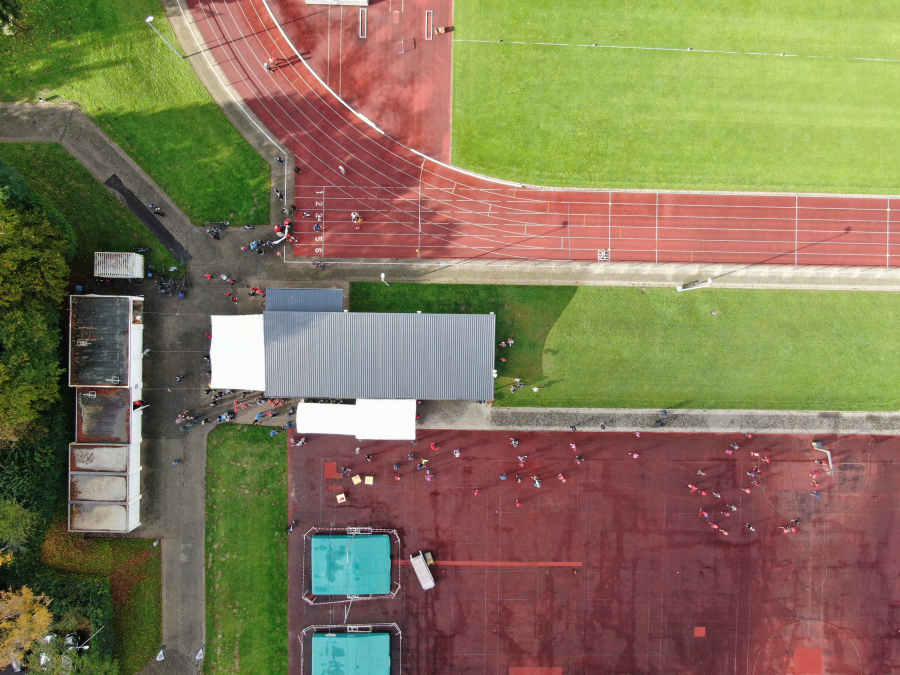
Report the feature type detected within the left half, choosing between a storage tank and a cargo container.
cargo container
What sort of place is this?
sports ground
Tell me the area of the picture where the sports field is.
top right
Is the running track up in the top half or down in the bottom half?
top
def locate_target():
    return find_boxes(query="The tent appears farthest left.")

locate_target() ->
[207,316,268,390]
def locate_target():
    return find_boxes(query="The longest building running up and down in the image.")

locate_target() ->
[69,295,151,532]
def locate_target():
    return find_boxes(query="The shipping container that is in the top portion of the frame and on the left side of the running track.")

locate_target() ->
[94,251,145,278]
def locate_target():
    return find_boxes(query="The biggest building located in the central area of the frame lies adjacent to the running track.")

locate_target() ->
[263,287,497,401]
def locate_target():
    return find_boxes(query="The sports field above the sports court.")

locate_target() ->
[451,0,900,192]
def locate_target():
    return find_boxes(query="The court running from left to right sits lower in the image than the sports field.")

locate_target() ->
[287,428,900,675]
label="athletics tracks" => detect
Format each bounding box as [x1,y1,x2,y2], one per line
[188,0,900,268]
